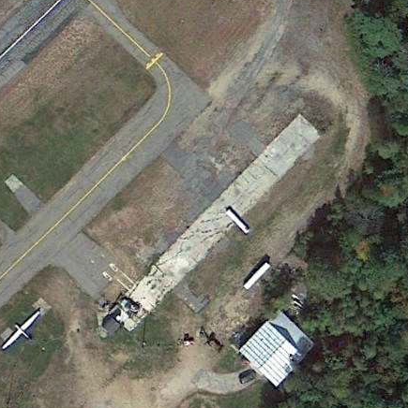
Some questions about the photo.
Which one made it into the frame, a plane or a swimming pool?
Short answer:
plane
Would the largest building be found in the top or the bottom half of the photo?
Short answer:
bottom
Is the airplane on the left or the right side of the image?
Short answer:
left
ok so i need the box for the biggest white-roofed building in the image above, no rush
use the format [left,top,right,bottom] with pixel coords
[241,313,313,385]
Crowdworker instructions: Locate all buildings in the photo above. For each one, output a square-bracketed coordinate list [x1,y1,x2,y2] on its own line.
[102,312,124,332]
[241,313,313,385]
